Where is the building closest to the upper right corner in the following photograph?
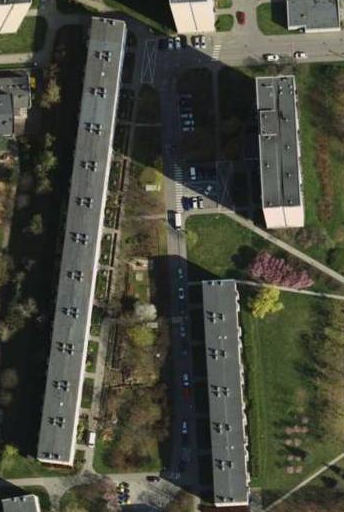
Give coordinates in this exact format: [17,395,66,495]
[286,0,339,34]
